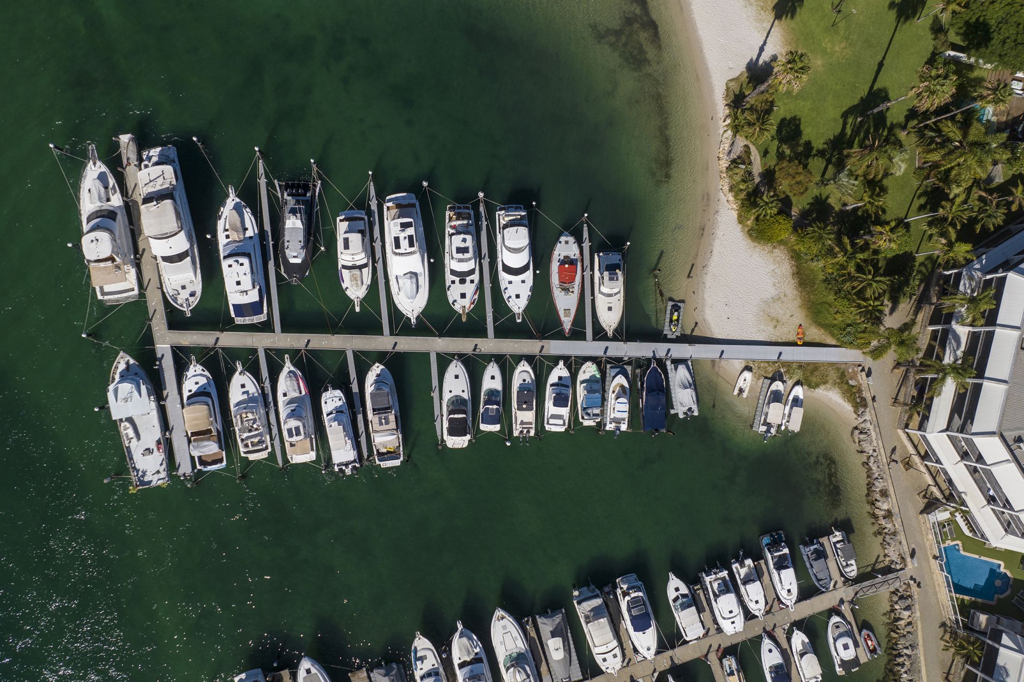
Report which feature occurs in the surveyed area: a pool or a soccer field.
pool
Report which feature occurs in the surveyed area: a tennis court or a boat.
boat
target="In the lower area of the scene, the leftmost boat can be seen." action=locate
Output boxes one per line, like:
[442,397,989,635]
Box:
[86,336,174,497]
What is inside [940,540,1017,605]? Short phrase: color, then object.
blue swimming pool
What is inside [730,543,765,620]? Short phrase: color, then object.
white boat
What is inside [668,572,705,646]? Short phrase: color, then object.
white boat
